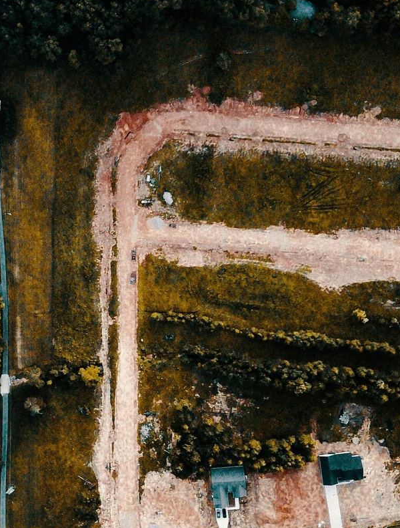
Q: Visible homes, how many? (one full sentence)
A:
In total, there are 2 homes in the scene.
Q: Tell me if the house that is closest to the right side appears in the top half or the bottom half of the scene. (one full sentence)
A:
Seen from above, the house that is closest to the right side lies in the bottom half of the view.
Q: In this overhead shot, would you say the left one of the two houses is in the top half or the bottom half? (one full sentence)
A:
The left one of the two houses sits in the bottom half of the picture.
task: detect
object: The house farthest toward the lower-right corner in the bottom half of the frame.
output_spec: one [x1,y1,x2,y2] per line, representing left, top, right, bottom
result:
[319,453,364,485]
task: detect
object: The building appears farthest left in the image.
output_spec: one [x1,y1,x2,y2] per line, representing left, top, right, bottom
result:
[210,464,248,510]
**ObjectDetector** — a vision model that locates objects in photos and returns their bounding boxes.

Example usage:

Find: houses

[319,453,364,485]
[210,464,248,510]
